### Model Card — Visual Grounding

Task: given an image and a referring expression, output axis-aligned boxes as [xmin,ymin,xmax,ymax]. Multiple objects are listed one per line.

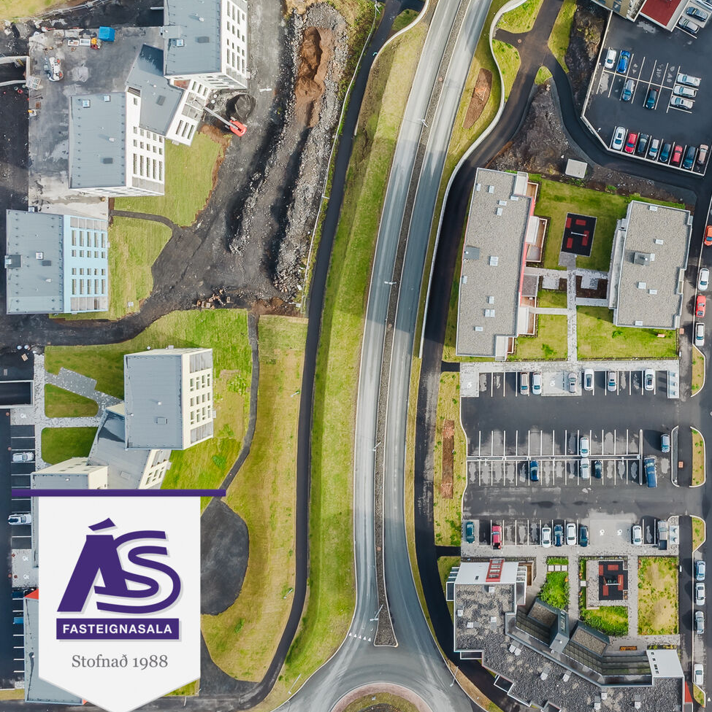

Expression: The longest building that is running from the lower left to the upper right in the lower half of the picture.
[31,350,212,568]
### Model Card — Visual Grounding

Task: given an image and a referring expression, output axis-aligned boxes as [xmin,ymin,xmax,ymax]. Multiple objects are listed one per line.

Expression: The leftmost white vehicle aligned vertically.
[47,54,65,83]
